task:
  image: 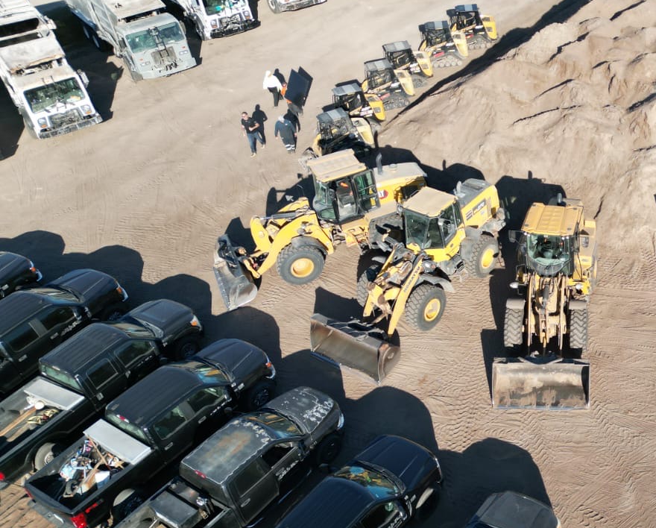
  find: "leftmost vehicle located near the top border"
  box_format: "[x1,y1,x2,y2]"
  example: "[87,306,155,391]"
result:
[0,0,101,133]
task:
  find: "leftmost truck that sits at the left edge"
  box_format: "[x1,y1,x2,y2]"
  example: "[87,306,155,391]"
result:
[0,248,48,310]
